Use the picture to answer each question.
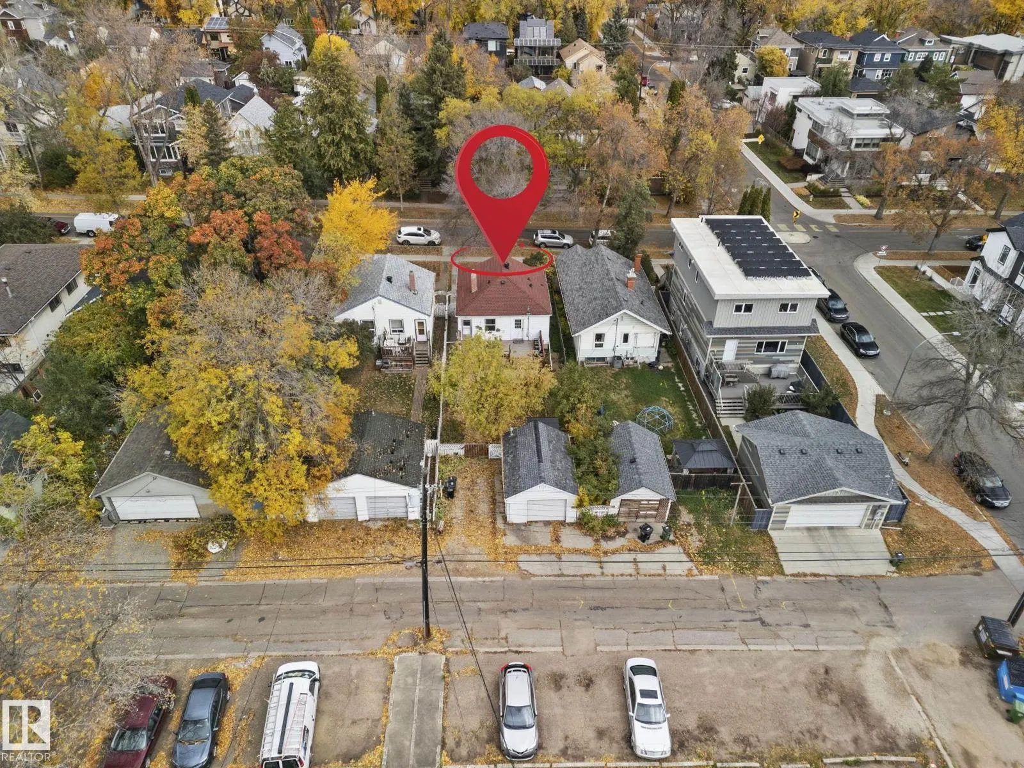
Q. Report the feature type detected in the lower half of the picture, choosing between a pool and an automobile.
automobile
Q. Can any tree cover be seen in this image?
Yes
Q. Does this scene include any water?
No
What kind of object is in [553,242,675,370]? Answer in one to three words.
house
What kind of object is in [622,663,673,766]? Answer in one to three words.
car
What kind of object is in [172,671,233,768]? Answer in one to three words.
car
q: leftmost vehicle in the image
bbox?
[24,217,72,235]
